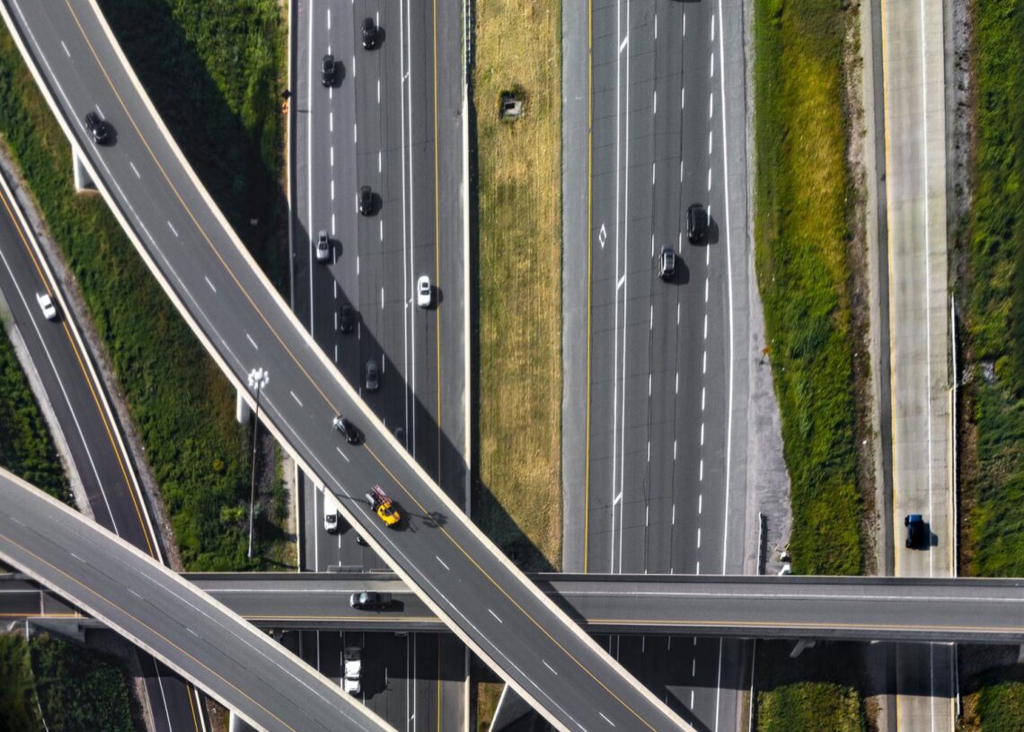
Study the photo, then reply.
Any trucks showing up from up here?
Yes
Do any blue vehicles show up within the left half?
No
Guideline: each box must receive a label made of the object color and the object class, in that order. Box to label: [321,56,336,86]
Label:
black car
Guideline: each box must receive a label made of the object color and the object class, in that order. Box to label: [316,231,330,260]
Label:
gray car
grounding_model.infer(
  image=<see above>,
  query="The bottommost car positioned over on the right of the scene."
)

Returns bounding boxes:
[904,516,924,547]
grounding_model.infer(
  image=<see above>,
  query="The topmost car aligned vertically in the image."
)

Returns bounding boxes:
[362,16,376,49]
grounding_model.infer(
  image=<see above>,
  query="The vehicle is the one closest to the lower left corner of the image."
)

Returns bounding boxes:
[345,646,361,694]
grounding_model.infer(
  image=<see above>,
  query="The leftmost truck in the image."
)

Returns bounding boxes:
[35,288,59,324]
